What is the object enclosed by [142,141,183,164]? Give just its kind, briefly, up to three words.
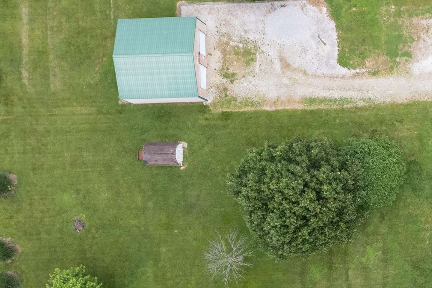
shed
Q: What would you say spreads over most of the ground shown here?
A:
grass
